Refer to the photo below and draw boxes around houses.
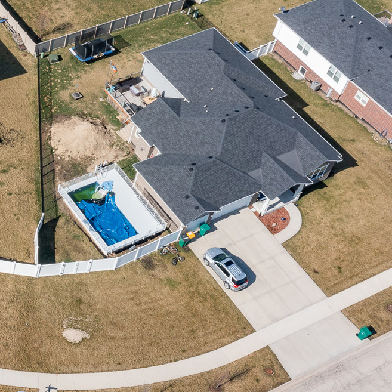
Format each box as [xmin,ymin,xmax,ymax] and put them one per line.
[125,27,346,244]
[272,0,392,149]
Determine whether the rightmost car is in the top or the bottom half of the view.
bottom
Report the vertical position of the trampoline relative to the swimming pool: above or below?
above it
